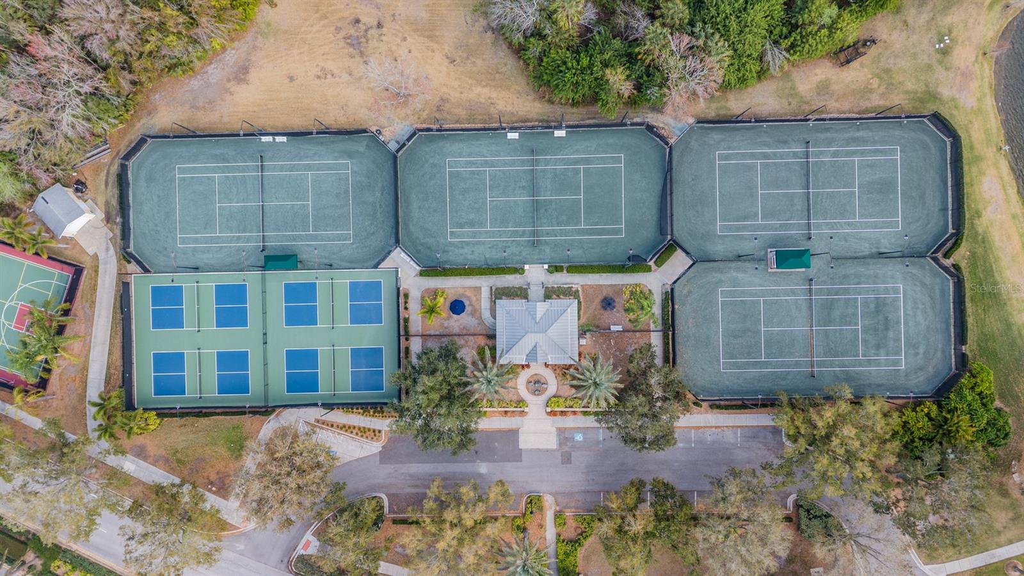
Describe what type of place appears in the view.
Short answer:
sports ground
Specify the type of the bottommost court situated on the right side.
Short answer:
tennis court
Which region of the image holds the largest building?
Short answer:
center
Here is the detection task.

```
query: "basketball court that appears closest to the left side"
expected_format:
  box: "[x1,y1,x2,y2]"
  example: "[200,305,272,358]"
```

[0,242,86,398]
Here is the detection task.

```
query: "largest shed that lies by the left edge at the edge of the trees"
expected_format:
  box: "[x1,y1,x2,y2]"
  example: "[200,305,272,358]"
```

[34,184,95,239]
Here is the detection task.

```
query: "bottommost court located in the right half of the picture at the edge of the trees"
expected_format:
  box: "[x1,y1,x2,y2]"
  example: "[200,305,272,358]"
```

[672,255,955,399]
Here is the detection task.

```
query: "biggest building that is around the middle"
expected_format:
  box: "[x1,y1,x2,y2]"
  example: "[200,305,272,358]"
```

[496,299,579,365]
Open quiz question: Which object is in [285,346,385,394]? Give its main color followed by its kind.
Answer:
blue sports court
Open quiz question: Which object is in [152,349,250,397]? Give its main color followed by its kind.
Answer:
blue sports court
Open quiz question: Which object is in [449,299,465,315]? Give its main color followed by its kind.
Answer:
blue umbrella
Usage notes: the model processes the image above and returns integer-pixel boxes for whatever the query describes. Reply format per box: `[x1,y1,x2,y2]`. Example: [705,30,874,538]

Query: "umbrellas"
[449,299,465,315]
[601,296,615,310]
